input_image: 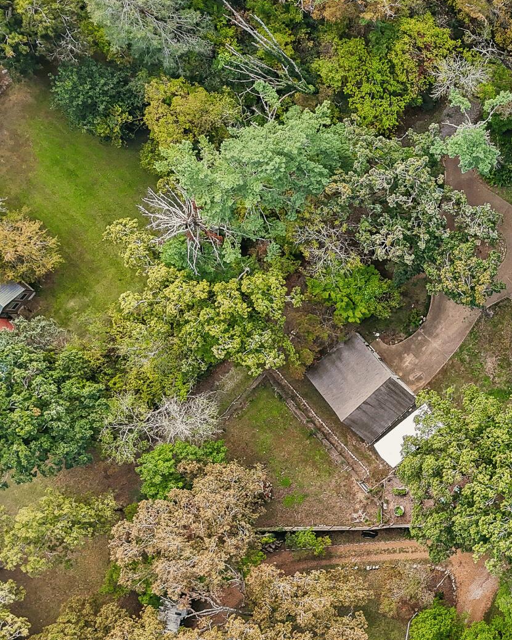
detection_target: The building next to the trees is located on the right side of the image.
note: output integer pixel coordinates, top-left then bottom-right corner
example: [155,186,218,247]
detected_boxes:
[306,332,417,446]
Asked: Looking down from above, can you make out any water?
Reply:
No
